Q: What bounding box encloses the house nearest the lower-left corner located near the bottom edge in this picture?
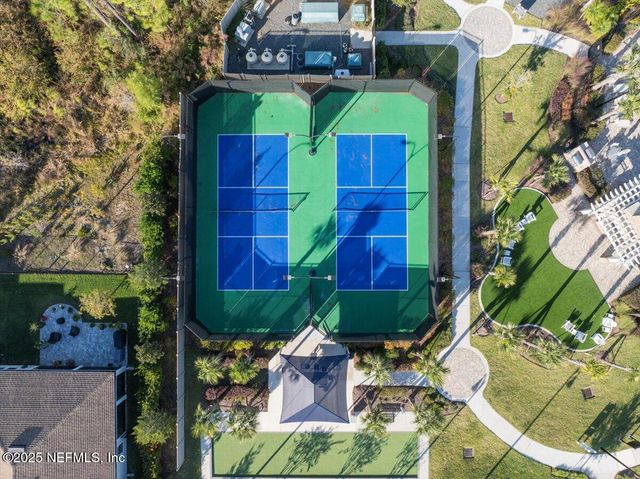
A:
[0,361,129,479]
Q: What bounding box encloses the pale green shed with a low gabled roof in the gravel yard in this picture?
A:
[301,2,338,26]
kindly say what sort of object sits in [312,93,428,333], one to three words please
sports court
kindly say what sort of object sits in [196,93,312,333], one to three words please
sports court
